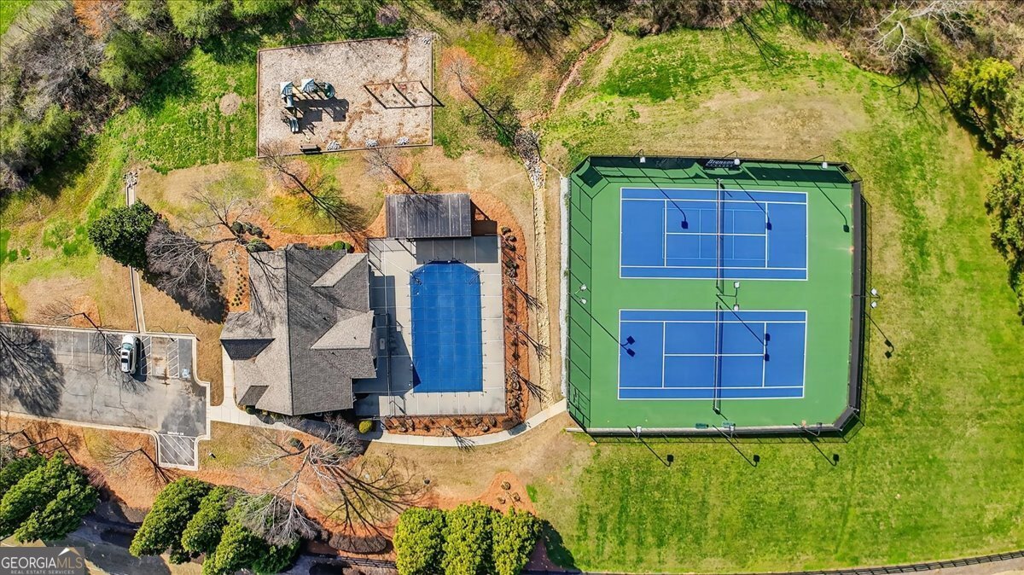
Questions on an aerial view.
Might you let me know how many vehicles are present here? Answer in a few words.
1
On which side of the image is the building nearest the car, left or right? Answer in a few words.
left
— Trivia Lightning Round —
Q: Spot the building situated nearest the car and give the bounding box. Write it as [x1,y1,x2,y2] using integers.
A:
[221,249,379,414]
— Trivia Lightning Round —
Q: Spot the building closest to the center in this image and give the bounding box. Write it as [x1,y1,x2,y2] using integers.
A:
[385,193,471,239]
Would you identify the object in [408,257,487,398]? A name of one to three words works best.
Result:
swimming pool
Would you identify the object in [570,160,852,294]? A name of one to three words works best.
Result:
tennis court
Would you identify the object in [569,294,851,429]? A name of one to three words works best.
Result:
tennis court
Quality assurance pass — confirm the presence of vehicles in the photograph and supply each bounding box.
[117,335,140,375]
